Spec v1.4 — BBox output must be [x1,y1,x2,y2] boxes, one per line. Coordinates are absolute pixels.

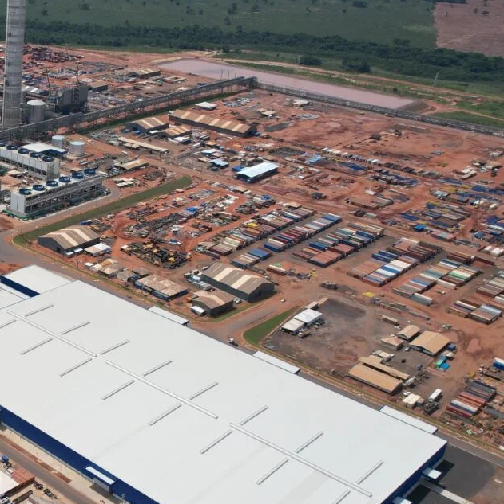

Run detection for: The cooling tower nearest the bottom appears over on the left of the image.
[7,167,110,216]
